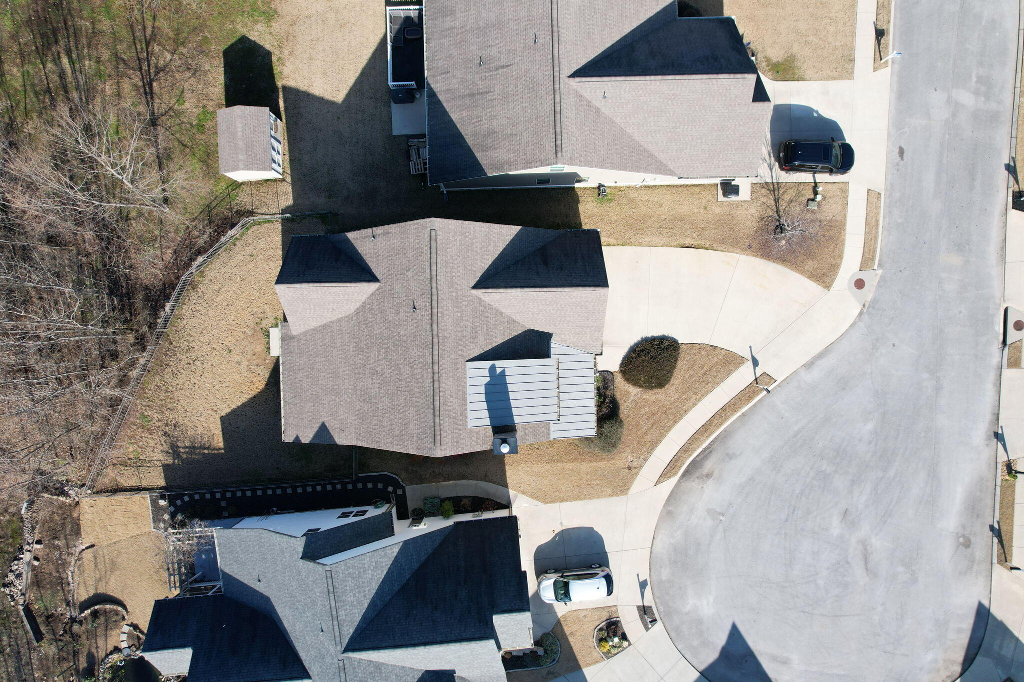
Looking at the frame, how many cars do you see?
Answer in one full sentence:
The photo contains 2 cars.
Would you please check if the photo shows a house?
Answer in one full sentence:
Yes, the picture does show a house.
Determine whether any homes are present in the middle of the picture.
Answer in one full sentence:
Yes, there is a home in the middle of the picture.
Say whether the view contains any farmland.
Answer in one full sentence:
No, no farmland is visible.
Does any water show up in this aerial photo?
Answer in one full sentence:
No, the picture contains no water.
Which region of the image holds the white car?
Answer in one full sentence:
The white car is located in the bottom region of the scene.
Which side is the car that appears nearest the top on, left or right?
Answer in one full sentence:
The car that appears nearest the top sits on the right side.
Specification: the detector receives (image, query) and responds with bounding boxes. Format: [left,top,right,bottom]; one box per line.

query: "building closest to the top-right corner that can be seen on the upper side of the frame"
[423,0,771,197]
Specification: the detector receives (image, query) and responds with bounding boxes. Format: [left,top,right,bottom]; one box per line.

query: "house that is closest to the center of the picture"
[277,218,609,457]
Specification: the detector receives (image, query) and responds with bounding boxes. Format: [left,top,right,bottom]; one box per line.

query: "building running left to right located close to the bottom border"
[140,504,537,682]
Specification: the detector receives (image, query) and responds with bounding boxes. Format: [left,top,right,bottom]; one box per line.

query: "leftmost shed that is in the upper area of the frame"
[218,105,280,181]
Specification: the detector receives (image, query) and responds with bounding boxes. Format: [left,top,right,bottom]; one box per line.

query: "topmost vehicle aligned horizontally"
[777,138,856,177]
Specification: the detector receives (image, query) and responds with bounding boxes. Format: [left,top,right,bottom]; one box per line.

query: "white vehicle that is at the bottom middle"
[538,564,615,608]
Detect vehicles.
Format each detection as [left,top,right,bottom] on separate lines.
[777,138,856,177]
[538,564,615,608]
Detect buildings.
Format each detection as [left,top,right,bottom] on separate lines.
[277,218,609,457]
[218,105,280,181]
[140,504,537,682]
[423,0,771,197]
